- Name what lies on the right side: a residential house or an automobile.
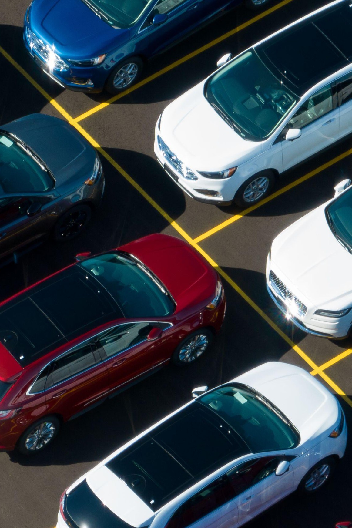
automobile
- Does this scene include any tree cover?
No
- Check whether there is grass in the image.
No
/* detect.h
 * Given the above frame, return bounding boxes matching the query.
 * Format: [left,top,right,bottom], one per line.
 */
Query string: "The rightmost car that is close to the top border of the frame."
[156,0,352,208]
